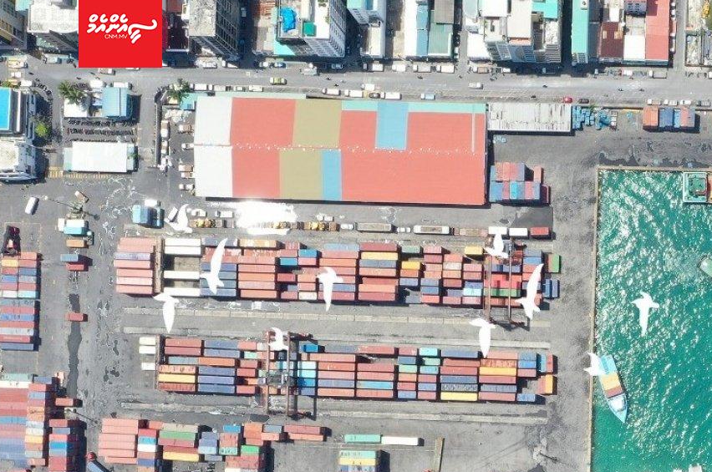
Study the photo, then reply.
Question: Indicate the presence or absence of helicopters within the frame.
No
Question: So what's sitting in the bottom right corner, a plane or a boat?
boat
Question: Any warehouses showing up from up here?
Yes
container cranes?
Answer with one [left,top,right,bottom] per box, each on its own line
[266,331,307,418]
[488,227,520,333]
